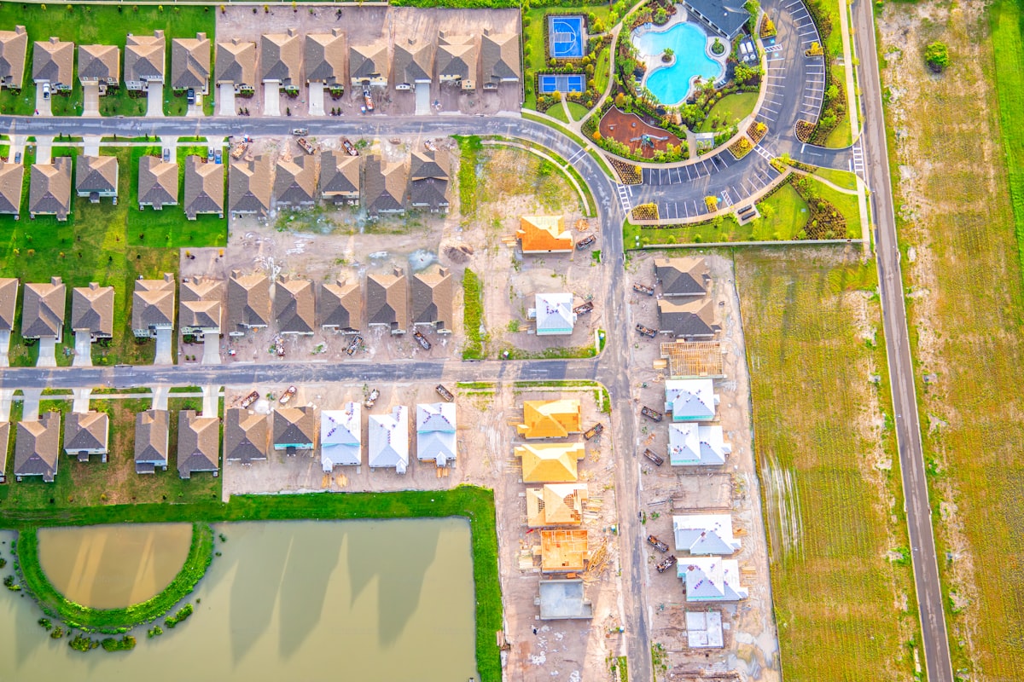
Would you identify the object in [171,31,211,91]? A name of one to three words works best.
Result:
house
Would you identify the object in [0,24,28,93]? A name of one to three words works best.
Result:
house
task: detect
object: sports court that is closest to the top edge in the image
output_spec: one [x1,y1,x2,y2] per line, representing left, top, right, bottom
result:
[548,15,585,58]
